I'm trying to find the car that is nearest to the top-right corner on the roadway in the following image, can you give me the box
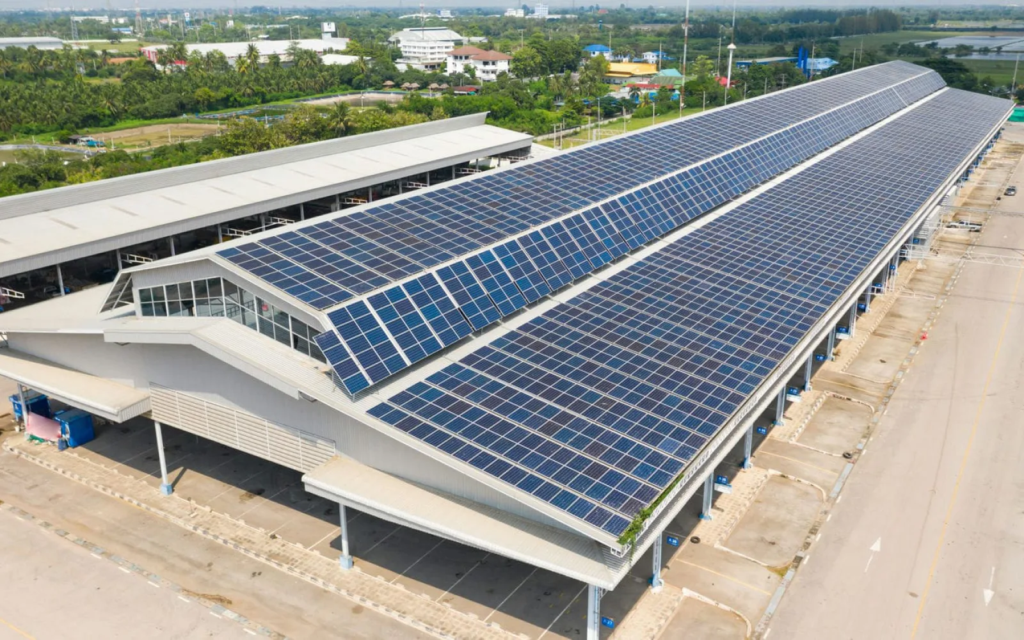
[1005,185,1021,198]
